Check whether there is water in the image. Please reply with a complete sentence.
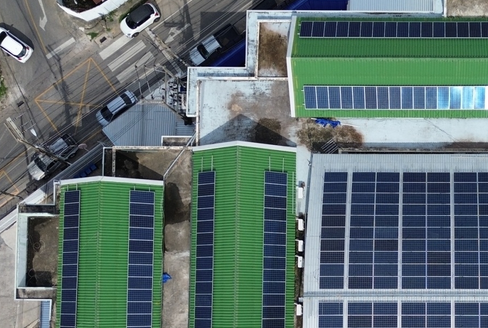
No, there is no water in the image.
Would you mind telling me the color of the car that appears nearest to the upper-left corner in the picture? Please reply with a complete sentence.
The color of the car that appears nearest to the upper-left corner is white.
